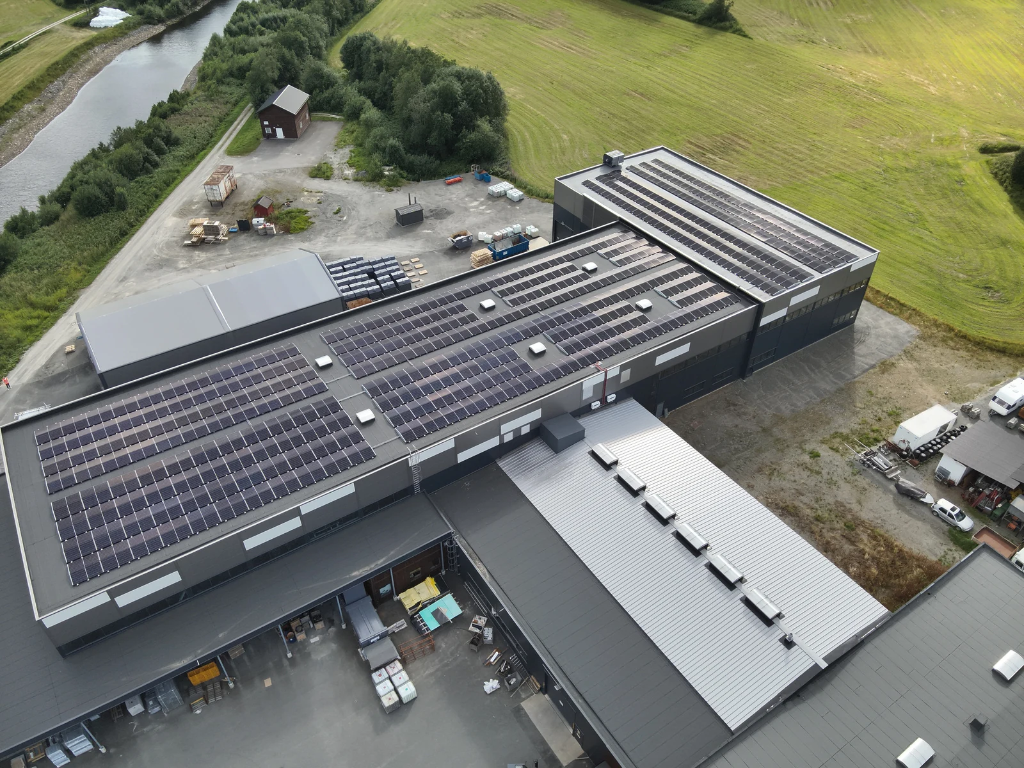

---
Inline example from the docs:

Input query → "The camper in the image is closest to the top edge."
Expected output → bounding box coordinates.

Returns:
[988,377,1024,417]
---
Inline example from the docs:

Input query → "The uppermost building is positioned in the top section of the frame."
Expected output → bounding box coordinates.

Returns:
[256,85,311,139]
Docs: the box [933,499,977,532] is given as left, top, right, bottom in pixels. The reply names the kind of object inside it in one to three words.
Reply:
car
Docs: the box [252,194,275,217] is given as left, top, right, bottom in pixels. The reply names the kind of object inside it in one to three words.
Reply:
shed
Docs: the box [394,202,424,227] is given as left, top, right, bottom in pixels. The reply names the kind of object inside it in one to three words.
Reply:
shed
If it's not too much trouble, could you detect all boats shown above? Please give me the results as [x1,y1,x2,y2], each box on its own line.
[895,467,937,495]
